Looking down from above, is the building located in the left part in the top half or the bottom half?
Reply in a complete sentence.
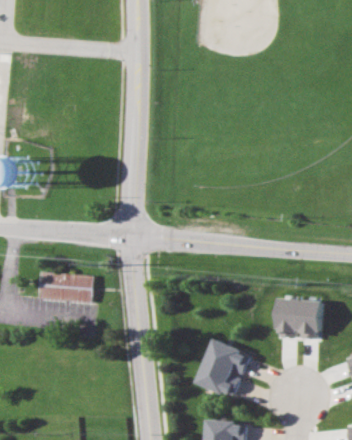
Seen from above, the building located in the left part lies in the bottom half of the view.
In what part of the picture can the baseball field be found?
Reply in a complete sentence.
The baseball field sits in the top right section of the image.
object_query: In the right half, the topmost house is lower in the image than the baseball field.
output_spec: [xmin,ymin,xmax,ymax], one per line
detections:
[272,298,325,338]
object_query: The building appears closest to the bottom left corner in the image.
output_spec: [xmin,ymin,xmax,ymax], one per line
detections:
[36,272,96,306]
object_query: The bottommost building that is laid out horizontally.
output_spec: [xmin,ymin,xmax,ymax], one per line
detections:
[202,419,251,440]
